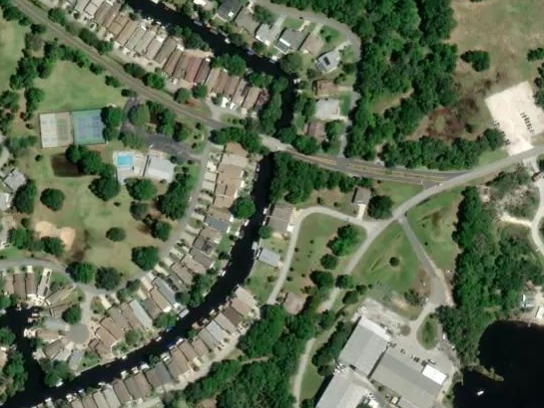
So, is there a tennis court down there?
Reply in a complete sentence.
Yes, this view includes a tennis court.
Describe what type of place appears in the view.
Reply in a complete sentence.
It's a residential area.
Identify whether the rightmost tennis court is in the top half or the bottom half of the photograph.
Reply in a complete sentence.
You can find the rightmost tennis court in the top half.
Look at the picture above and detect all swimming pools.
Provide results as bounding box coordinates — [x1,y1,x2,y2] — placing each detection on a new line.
[116,153,133,166]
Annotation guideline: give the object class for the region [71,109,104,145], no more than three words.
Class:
tennis court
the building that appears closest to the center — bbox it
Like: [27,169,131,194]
[266,203,289,233]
